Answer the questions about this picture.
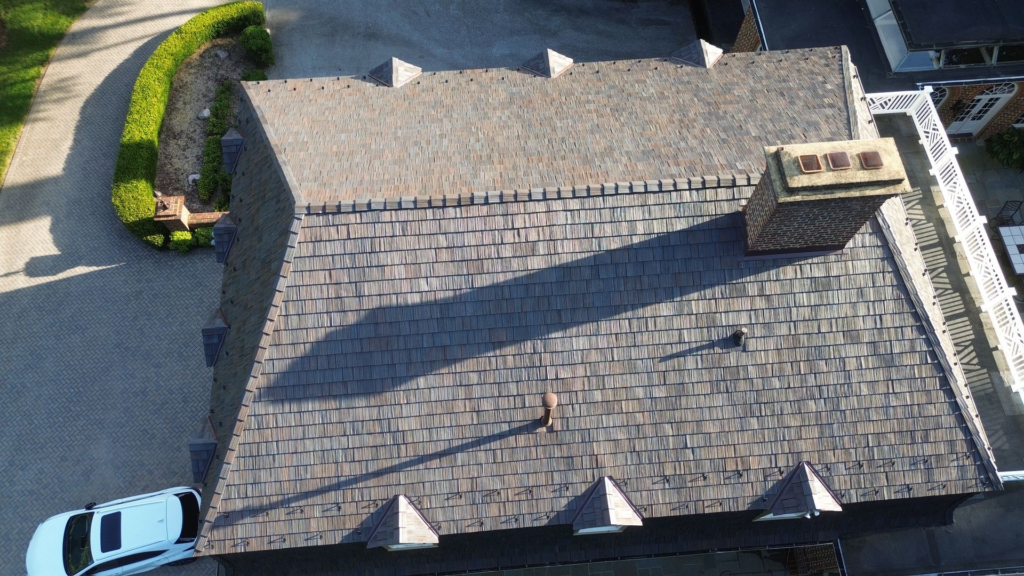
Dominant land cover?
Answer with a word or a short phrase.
buildings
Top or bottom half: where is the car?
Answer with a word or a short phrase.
bottom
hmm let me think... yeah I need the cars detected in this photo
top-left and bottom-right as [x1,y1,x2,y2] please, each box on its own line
[25,486,210,576]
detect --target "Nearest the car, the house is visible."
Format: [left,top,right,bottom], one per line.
[186,37,1006,576]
